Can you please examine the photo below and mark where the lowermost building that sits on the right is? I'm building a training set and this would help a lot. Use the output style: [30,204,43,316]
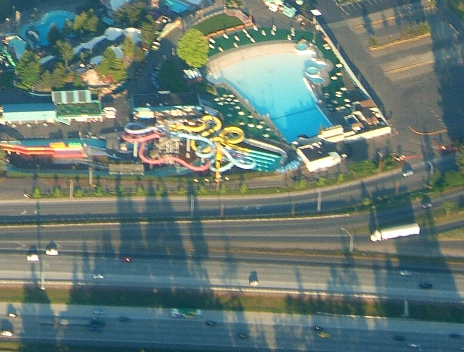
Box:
[293,138,345,173]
